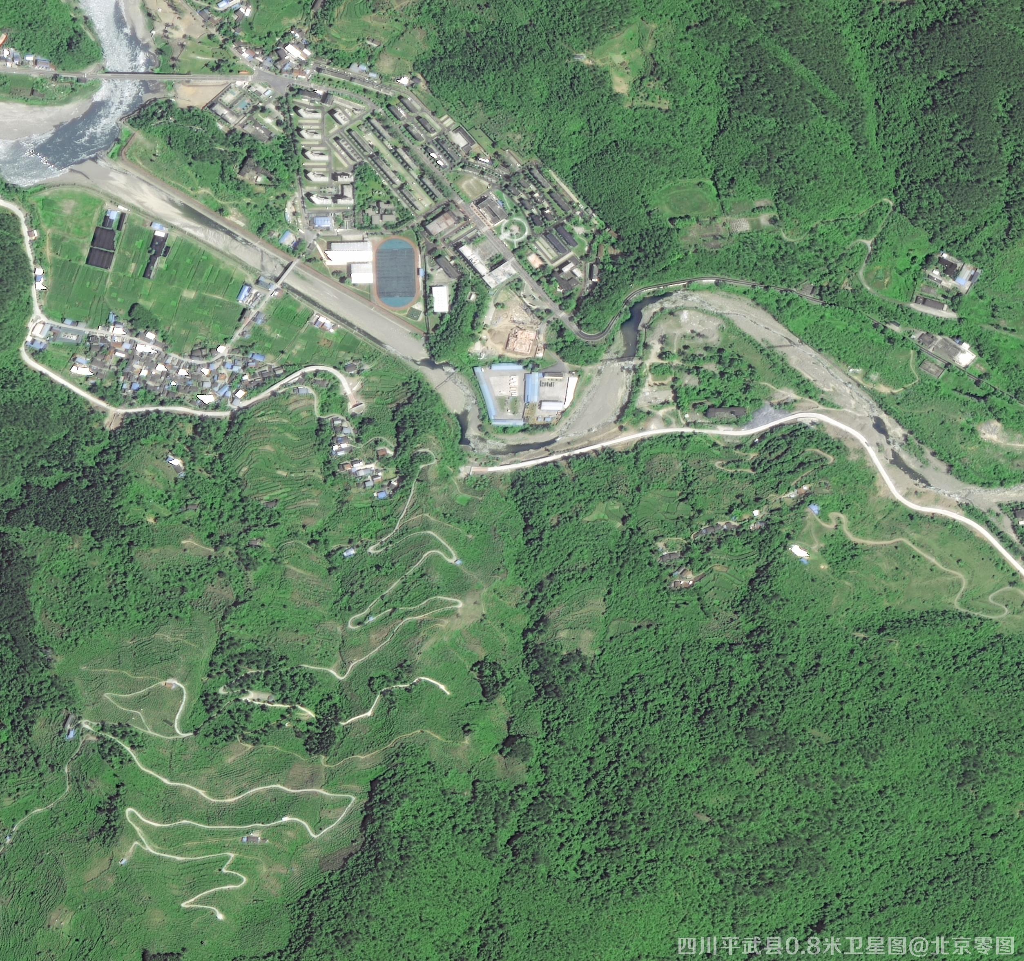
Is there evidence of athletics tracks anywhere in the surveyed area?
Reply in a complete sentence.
Yes, there is an athletics track in the image.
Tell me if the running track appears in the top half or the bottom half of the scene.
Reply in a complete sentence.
The top half of the photo is where the running track is.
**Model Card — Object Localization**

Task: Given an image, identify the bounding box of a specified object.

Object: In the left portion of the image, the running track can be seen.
[372,235,420,309]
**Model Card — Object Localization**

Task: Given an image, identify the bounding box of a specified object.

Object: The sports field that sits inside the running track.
[376,248,415,296]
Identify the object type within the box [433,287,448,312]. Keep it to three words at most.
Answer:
building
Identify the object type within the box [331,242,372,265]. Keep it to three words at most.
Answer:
building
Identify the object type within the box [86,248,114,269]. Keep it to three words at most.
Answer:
house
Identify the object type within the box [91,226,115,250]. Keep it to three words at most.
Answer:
house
